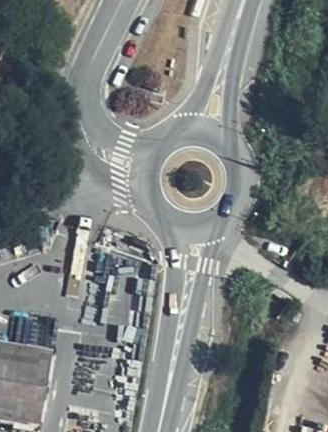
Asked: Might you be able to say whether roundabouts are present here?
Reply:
Yes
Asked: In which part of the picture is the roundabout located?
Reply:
center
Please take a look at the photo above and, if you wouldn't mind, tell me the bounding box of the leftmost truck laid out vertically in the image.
[68,215,94,298]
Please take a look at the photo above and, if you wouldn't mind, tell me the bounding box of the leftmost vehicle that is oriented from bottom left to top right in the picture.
[10,264,42,288]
